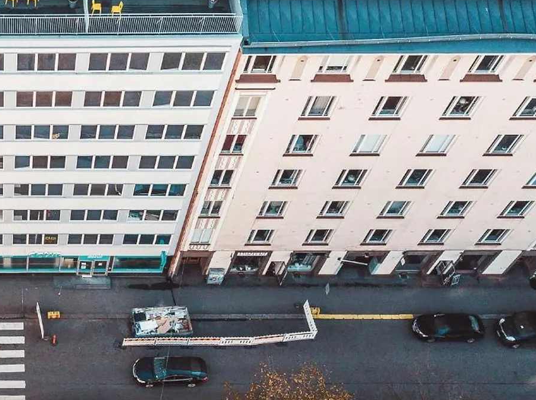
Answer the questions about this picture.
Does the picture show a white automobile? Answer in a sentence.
No, I find no white automobile anywhere in the image.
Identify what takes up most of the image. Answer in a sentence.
Most of the picture is covered by buildings.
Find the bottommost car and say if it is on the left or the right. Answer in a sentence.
The bottommost car sits on the left side.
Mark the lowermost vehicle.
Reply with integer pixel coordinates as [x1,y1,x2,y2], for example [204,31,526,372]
[132,351,209,386]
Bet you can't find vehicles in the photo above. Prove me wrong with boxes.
[492,310,536,347]
[132,351,209,386]
[411,308,489,341]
